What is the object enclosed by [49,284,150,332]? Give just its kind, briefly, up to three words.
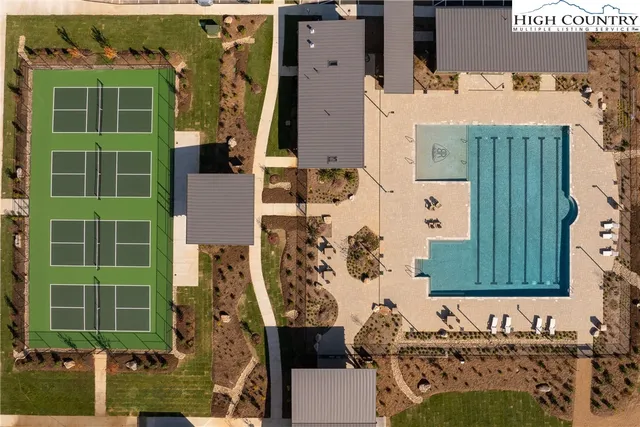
sports court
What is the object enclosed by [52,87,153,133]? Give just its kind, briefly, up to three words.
sports court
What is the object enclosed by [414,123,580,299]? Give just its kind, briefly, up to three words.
swimming pool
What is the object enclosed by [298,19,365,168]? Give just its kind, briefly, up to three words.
building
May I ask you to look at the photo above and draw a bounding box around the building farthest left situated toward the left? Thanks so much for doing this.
[187,174,255,245]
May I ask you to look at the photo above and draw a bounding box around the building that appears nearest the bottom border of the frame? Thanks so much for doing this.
[291,368,377,427]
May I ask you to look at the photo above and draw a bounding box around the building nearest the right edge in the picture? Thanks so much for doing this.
[436,8,589,76]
